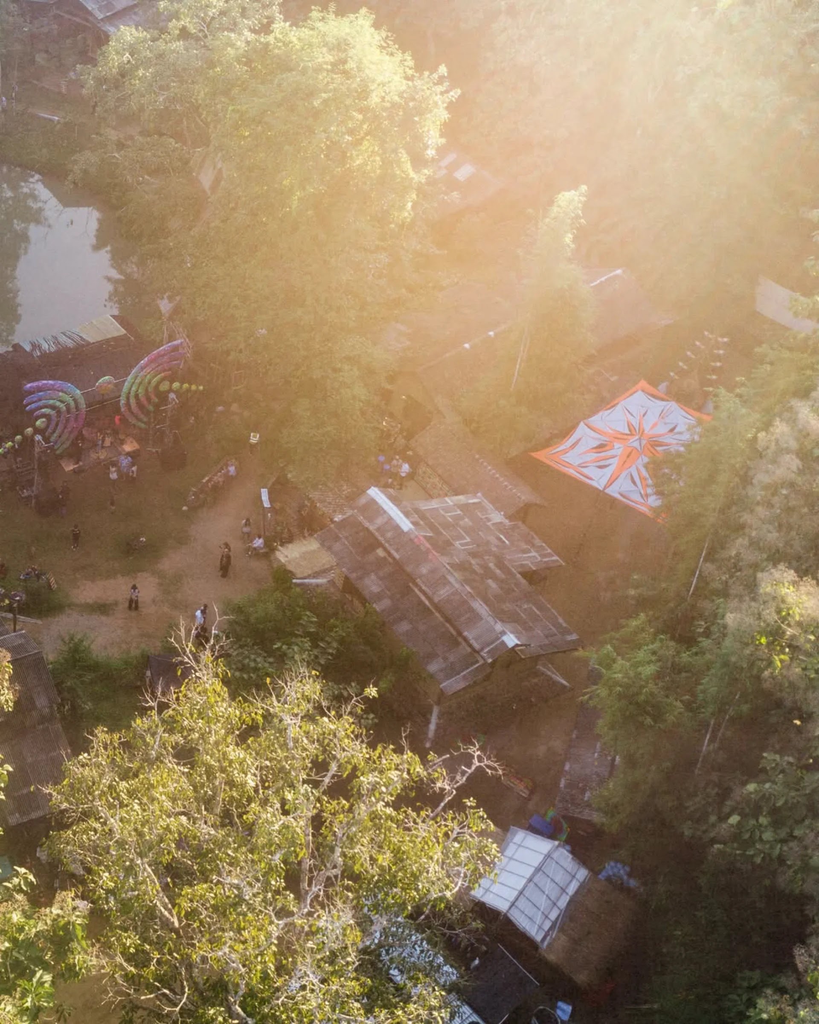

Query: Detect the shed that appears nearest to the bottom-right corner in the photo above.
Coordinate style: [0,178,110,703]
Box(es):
[534,868,673,1005]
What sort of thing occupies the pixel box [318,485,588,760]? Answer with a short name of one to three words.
house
